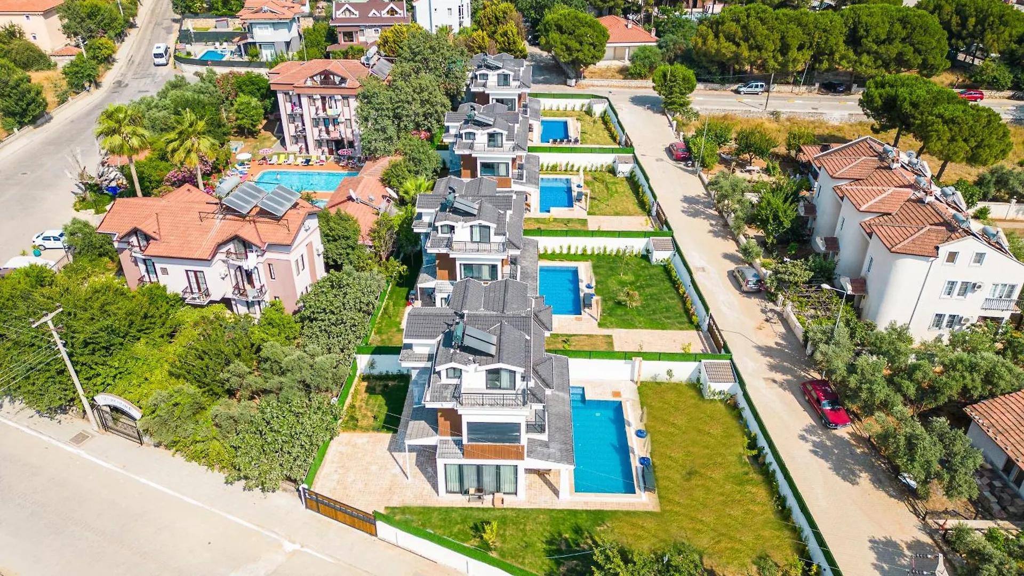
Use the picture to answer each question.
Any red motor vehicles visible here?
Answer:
Yes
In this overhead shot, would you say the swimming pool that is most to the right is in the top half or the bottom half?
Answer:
bottom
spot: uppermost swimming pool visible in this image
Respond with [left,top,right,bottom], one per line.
[195,48,237,61]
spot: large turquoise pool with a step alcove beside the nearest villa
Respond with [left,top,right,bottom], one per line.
[569,383,643,498]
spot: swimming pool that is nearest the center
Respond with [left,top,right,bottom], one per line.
[539,263,586,317]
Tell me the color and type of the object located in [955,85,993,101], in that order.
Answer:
red car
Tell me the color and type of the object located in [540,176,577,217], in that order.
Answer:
blue swimming pool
